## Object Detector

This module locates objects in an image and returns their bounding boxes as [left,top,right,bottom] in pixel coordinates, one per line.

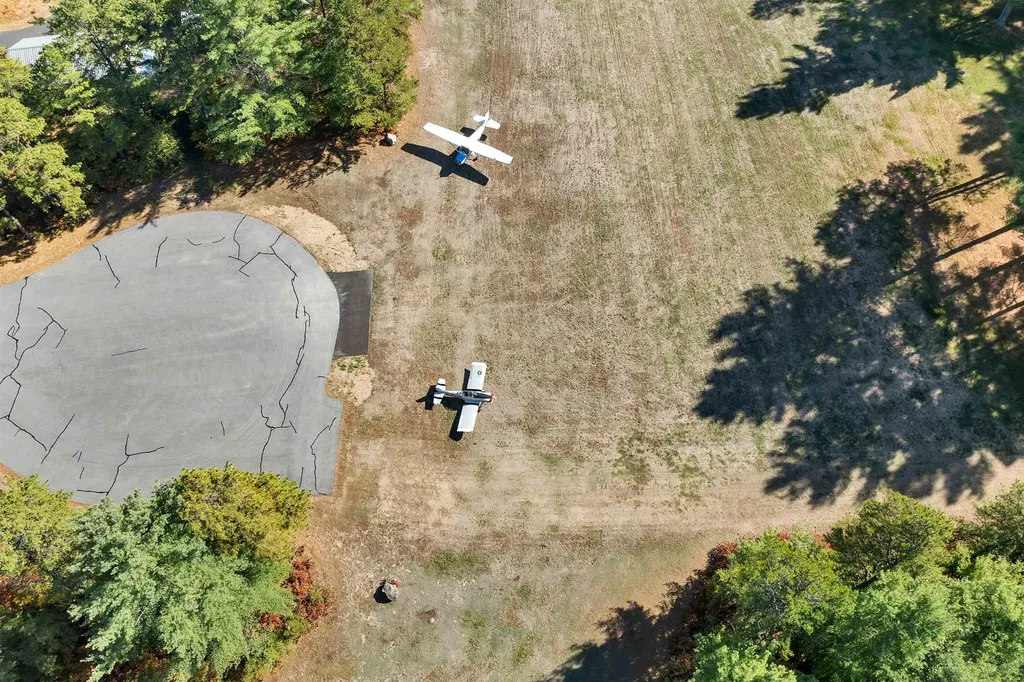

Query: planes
[423,109,513,168]
[432,362,496,433]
